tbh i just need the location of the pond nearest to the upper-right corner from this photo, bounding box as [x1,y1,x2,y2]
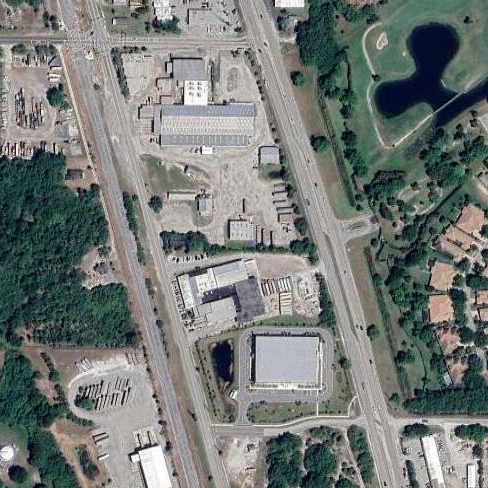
[375,22,488,123]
